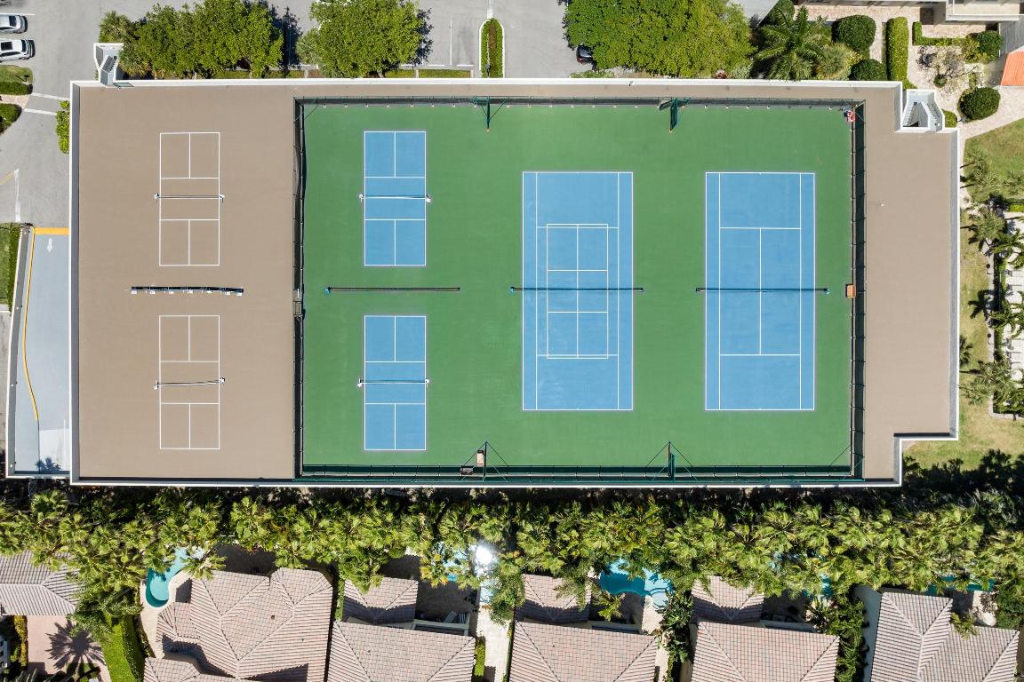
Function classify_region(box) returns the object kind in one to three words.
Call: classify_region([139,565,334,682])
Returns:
house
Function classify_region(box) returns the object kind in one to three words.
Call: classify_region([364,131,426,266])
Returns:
sports court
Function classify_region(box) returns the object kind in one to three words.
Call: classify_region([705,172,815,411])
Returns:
tennis court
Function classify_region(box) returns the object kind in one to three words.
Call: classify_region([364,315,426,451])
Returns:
sports court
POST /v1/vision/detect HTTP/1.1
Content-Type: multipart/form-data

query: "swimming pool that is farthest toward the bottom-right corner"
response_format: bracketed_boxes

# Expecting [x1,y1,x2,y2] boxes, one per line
[925,567,996,601]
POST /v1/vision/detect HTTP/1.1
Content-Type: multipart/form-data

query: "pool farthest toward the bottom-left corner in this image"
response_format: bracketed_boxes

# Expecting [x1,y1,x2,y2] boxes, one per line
[143,537,195,609]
